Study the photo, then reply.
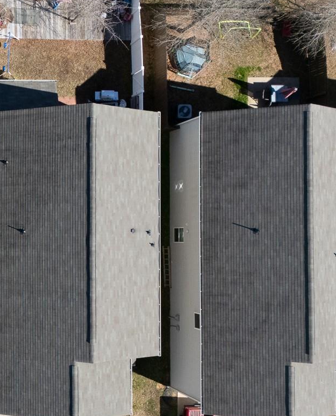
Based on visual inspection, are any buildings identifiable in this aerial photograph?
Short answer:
Yes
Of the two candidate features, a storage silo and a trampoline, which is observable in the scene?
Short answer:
trampoline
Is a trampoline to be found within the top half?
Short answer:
Yes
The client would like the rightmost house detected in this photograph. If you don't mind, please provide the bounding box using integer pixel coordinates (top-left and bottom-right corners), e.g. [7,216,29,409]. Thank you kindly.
[170,105,336,416]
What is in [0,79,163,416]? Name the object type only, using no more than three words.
house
